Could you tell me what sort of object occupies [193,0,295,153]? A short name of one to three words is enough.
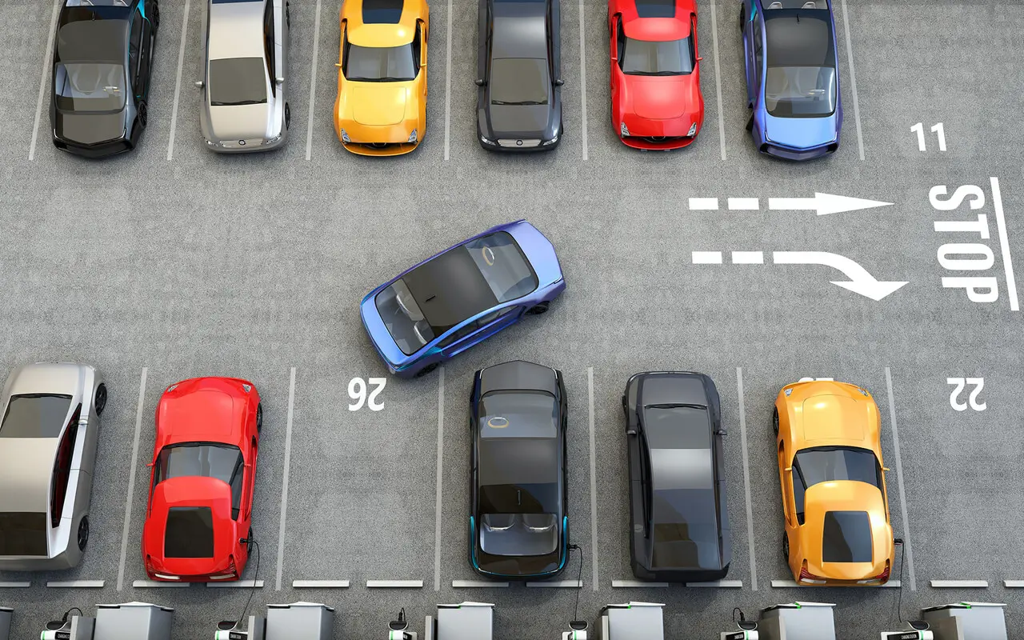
car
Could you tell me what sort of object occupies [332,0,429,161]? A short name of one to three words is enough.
car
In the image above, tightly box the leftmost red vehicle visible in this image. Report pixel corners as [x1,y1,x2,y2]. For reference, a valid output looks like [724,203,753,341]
[143,379,259,584]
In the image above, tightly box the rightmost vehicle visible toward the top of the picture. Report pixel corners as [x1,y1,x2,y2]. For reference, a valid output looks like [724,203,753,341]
[742,0,841,161]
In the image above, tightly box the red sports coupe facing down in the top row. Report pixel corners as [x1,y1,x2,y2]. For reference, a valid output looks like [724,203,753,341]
[609,0,705,156]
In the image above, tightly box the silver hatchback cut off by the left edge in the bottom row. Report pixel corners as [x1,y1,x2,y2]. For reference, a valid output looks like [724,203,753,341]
[0,365,105,576]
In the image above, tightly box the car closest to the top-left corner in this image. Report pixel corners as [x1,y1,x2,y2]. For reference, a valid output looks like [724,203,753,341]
[55,0,155,161]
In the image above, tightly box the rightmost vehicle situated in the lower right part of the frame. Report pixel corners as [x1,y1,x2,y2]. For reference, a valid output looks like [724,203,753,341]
[776,381,895,587]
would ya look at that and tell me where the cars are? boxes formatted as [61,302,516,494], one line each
[622,372,729,584]
[358,219,565,380]
[193,0,295,153]
[55,0,155,161]
[332,0,429,161]
[609,0,705,156]
[143,379,259,584]
[470,359,567,580]
[472,0,567,152]
[0,365,105,576]
[742,0,841,161]
[776,381,895,587]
